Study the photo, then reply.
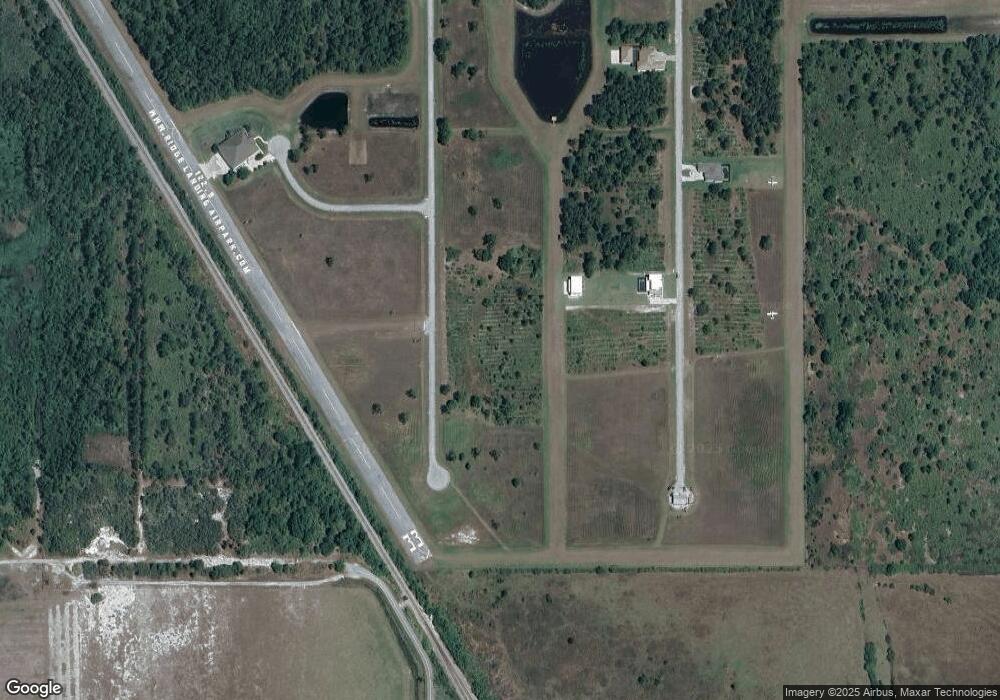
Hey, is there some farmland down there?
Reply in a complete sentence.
Yes, there's farmland in this view.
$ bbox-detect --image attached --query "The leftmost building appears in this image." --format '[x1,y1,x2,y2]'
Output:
[199,131,274,180]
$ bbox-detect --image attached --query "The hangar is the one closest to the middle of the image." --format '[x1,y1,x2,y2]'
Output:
[563,276,582,298]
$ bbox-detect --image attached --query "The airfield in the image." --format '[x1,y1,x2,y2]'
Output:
[79,0,810,565]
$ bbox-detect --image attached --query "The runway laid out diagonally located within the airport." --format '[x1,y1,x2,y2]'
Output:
[79,0,434,565]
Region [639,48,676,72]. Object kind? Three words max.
house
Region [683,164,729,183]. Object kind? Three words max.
house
